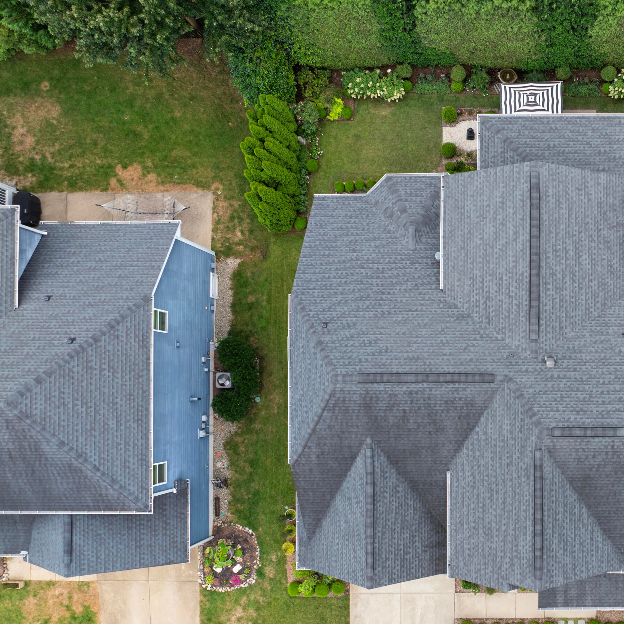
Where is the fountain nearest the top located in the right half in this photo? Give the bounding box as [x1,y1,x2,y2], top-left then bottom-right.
[501,67,517,83]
